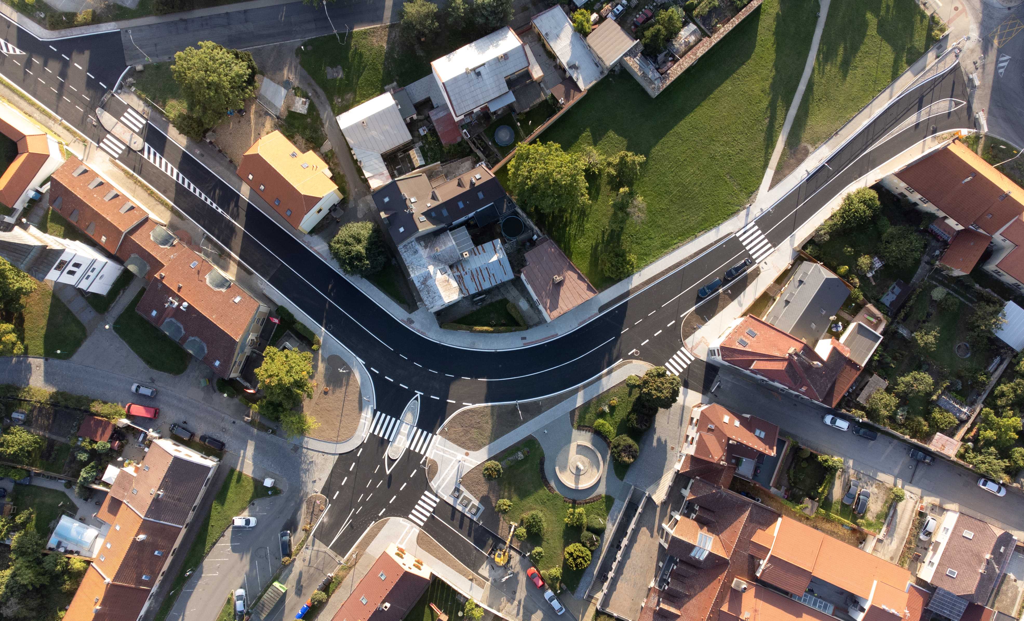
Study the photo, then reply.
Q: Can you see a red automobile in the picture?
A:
Yes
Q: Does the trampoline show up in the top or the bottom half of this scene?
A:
top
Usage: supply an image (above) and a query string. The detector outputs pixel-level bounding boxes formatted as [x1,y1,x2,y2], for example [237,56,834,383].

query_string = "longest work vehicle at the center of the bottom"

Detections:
[491,528,515,572]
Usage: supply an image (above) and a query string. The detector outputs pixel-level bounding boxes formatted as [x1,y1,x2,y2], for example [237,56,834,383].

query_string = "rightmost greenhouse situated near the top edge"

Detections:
[668,20,701,57]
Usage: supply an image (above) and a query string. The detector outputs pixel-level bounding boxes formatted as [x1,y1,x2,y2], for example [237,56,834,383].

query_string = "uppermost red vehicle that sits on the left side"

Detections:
[126,402,161,419]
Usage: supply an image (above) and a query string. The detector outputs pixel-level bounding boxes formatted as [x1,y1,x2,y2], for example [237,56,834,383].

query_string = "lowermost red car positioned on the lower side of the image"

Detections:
[526,565,545,591]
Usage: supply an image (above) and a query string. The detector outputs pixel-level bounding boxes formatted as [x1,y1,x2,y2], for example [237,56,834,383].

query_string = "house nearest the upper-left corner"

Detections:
[0,98,70,214]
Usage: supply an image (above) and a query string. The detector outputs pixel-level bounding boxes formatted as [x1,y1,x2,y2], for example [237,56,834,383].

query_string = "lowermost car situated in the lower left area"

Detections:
[233,588,248,615]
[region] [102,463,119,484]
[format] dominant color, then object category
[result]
white gazebo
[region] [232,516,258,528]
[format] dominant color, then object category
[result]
white vehicle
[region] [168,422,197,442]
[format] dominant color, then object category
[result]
black car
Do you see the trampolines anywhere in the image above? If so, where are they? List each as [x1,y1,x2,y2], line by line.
[494,126,514,147]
